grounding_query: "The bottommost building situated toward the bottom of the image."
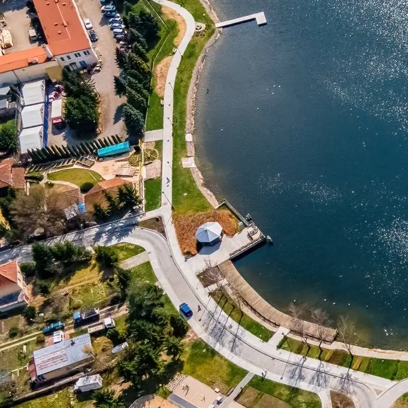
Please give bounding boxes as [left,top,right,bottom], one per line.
[34,332,100,383]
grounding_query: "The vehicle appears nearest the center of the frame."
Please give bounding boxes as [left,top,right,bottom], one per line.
[179,300,193,318]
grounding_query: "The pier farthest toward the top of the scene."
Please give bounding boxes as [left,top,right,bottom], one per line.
[217,12,268,28]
